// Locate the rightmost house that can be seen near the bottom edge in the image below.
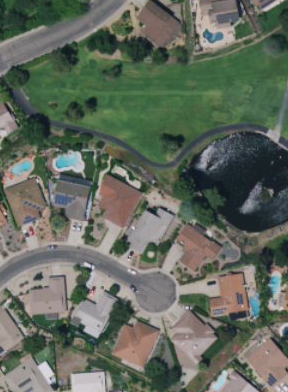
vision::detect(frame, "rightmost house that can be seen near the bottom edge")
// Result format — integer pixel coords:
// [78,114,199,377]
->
[244,338,288,386]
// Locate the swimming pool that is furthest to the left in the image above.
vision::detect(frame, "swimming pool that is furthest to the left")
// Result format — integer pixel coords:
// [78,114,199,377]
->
[10,159,33,177]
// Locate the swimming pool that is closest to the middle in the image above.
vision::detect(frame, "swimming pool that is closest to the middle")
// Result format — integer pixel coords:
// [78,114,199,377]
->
[54,150,84,171]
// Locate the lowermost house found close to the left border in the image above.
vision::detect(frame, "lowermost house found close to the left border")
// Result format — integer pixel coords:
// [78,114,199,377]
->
[6,354,56,392]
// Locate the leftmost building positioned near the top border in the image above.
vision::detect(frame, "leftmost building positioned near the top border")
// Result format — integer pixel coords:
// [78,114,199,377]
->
[136,0,182,48]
